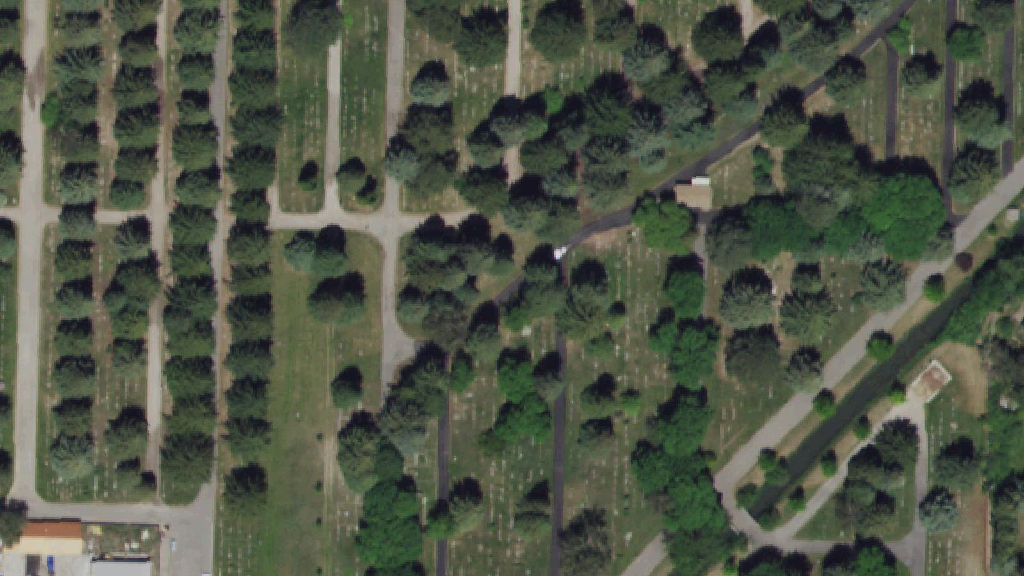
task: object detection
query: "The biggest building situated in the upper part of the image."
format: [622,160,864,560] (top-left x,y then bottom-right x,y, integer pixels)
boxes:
[676,177,712,210]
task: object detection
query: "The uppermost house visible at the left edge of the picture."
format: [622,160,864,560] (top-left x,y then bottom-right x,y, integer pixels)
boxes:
[17,522,81,554]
